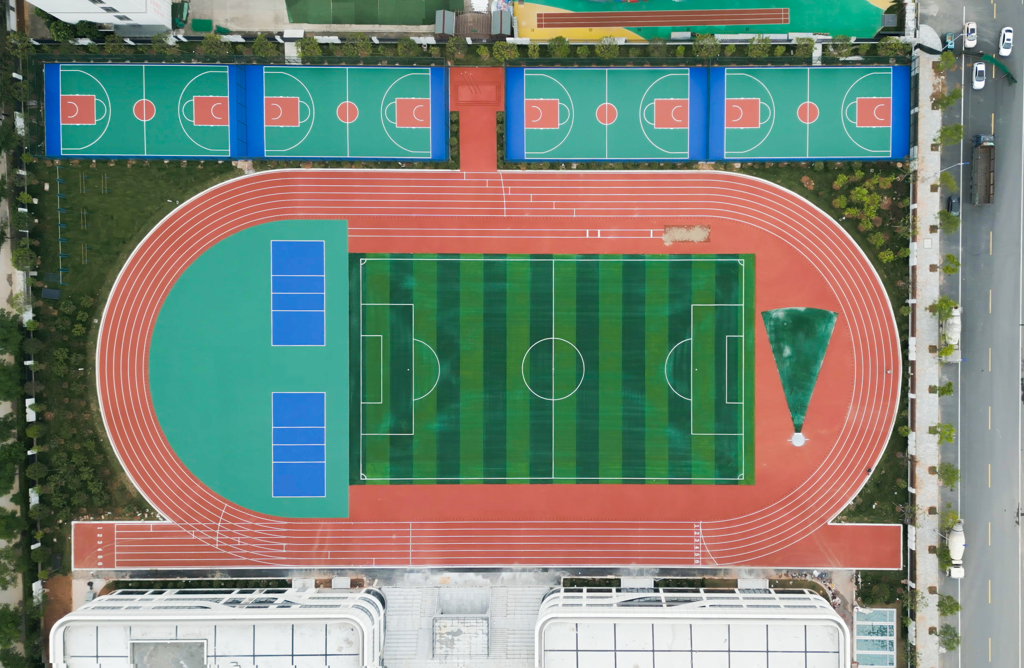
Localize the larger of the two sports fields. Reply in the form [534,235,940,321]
[348,253,755,485]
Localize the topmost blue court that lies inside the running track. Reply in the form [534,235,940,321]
[271,240,325,346]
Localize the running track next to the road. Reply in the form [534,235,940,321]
[71,169,903,571]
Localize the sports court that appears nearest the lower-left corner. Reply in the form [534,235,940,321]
[272,392,326,497]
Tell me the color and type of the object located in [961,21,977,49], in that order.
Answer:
white car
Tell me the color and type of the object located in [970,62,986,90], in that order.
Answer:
white car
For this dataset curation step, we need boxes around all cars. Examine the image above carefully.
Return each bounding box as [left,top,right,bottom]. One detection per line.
[945,193,961,218]
[996,27,1013,57]
[961,21,977,49]
[970,62,986,90]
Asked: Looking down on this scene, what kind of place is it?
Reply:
sports ground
